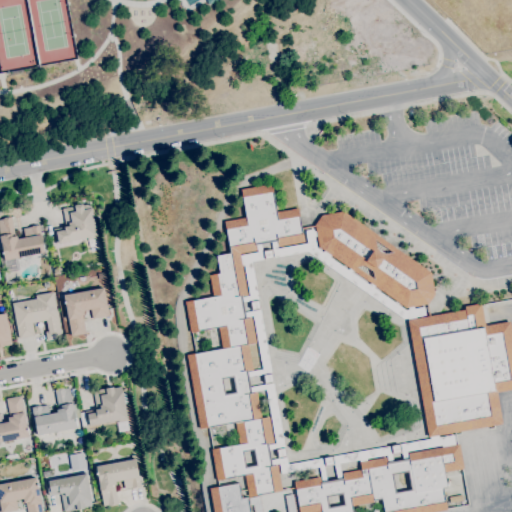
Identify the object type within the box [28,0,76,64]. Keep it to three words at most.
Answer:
tennis court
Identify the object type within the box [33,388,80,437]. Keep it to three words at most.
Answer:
house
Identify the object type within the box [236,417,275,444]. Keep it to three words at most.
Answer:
building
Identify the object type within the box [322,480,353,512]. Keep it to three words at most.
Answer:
building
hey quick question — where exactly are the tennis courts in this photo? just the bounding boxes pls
[0,0,40,72]
[28,0,76,64]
